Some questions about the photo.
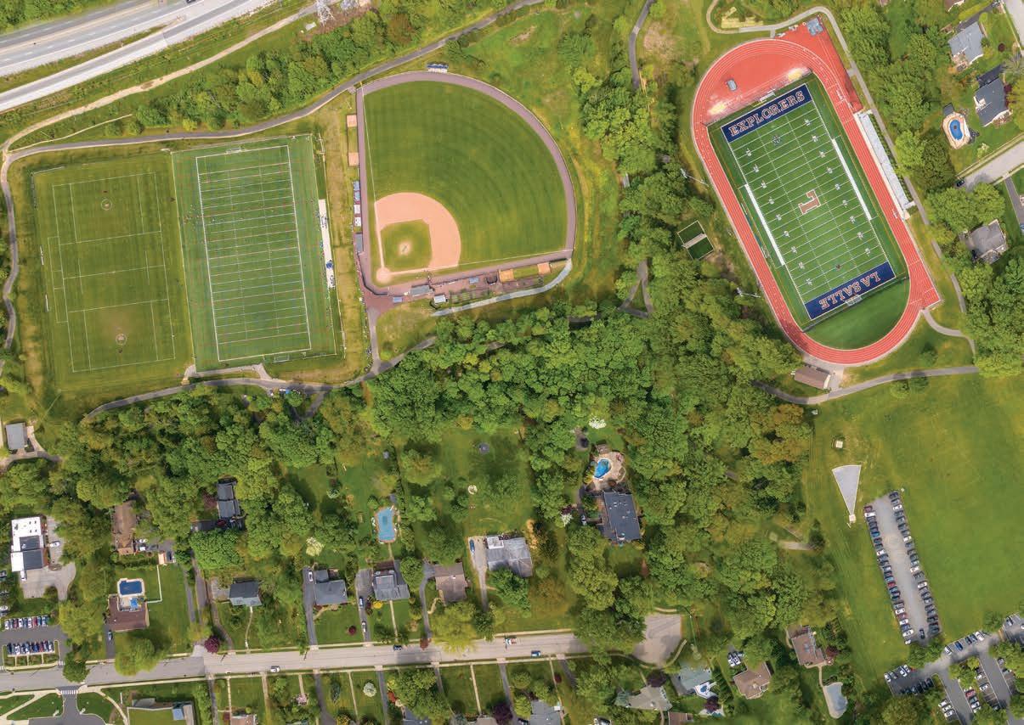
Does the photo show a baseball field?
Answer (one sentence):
Yes, the picture does show a baseball field.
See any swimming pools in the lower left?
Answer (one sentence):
Yes, a swimming pool can be seen in the lower left.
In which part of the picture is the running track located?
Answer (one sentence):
The running track is located in the top right region of the scene.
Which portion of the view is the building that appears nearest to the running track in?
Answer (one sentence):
The building that appears nearest to the running track is in the right part of the image.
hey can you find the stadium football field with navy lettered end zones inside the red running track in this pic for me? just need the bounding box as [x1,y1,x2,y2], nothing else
[706,75,907,349]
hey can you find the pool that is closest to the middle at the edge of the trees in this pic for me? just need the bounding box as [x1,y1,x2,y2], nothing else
[592,452,625,491]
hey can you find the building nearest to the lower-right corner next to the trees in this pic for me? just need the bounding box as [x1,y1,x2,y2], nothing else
[792,633,825,666]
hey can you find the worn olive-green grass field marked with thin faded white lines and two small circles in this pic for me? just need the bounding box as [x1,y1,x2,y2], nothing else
[34,153,194,397]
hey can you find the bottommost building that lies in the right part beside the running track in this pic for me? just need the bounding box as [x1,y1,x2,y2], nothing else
[795,366,831,388]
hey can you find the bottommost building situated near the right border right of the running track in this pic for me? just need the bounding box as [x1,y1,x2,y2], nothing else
[967,219,1006,259]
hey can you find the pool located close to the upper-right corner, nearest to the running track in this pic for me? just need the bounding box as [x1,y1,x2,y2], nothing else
[943,112,971,149]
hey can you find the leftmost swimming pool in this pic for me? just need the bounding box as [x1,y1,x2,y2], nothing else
[118,579,144,610]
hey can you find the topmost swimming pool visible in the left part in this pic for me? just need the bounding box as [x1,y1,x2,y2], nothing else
[375,506,397,544]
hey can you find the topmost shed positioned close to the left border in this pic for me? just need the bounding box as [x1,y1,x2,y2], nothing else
[5,423,28,449]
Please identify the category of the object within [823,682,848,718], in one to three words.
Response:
swimming pool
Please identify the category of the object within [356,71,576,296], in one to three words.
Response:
baseball field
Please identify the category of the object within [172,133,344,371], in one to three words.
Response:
sports field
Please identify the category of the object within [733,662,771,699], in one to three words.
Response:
house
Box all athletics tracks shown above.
[687,17,940,367]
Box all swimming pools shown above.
[118,579,144,610]
[823,682,848,718]
[592,452,625,491]
[375,506,397,544]
[943,112,971,149]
